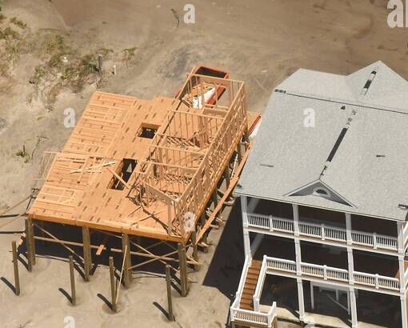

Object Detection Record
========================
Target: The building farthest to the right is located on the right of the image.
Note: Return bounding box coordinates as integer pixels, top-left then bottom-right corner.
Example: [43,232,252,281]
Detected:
[227,56,408,328]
